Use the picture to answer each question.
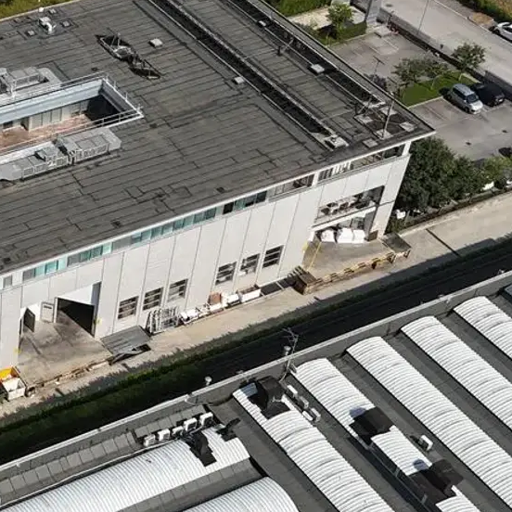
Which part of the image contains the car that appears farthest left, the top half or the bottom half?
top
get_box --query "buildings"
[0,0,432,395]
[0,270,512,512]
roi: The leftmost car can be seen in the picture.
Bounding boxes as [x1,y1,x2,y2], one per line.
[442,81,482,114]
